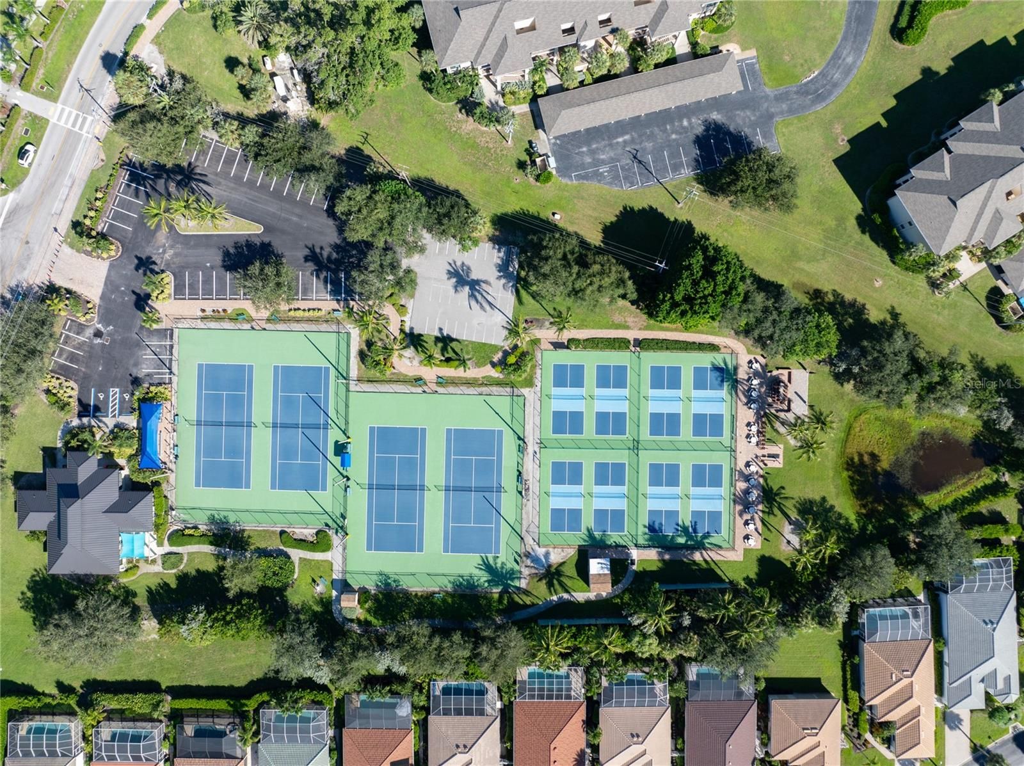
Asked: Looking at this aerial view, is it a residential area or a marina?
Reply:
residential area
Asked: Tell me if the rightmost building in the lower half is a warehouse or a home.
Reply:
home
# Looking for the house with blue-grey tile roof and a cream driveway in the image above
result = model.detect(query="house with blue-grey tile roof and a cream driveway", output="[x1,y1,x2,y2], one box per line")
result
[941,590,1020,709]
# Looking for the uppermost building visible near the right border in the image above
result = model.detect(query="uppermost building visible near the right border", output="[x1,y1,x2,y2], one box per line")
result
[876,88,1024,259]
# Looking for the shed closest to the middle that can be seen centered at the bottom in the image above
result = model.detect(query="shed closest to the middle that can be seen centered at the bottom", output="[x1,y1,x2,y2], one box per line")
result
[589,556,611,593]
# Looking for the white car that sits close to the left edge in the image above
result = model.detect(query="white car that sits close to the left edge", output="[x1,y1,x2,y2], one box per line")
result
[16,142,35,166]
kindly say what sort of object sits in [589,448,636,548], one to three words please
sports court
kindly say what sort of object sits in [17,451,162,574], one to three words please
building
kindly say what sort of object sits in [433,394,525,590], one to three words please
tennis court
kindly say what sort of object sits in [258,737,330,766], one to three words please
house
